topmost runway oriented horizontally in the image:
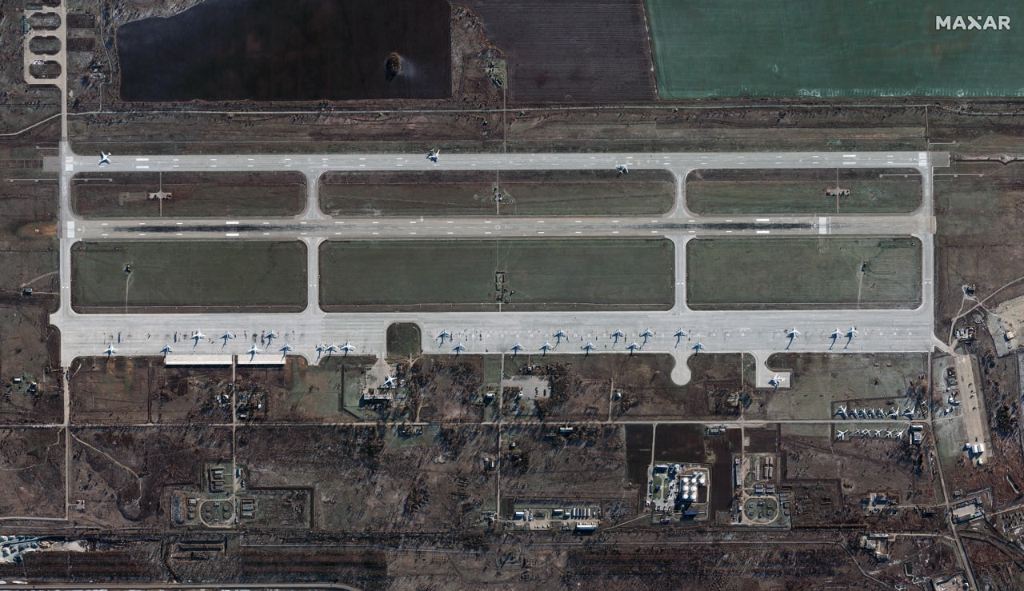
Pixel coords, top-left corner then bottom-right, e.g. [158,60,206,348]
[43,152,949,171]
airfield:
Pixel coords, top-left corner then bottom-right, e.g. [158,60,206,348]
[24,0,988,465]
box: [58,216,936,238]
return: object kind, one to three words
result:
runway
